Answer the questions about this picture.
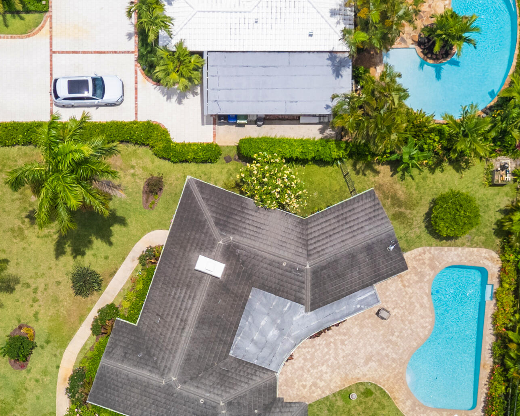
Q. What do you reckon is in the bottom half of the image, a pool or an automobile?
pool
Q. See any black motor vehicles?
No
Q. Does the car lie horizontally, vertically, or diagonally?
horizontally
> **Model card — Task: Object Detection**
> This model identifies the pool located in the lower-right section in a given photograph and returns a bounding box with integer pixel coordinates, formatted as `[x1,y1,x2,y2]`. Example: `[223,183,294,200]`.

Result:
[403,262,492,412]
